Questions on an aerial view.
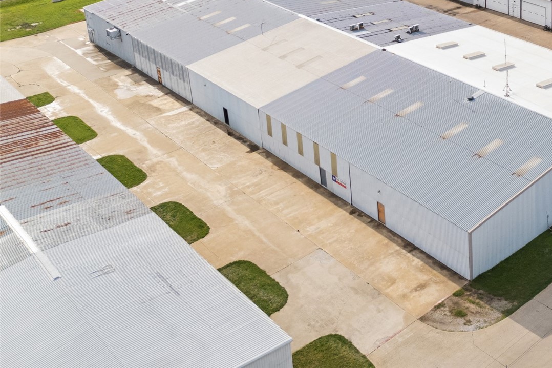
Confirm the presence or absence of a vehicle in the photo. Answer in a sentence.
No, no vehicle is visible in the scene.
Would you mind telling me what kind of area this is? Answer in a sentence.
The picture captures an industrial area.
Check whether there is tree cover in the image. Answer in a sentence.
No, tree cover can't be seen anywhere here.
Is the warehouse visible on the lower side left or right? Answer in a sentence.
It is on the left.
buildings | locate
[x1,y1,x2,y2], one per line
[458,0,552,29]
[0,81,295,368]
[80,0,552,283]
